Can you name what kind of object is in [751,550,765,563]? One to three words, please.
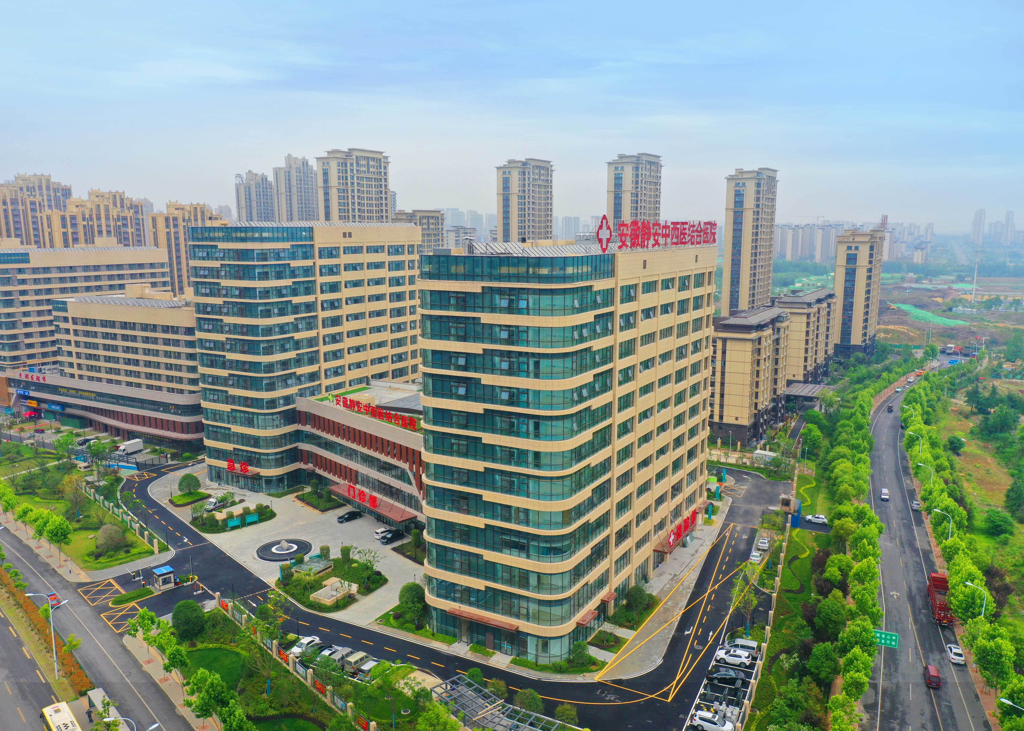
vehicle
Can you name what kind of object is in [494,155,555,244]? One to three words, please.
building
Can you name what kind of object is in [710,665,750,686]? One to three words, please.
car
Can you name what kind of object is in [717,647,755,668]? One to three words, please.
car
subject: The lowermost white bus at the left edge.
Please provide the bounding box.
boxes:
[39,705,83,731]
